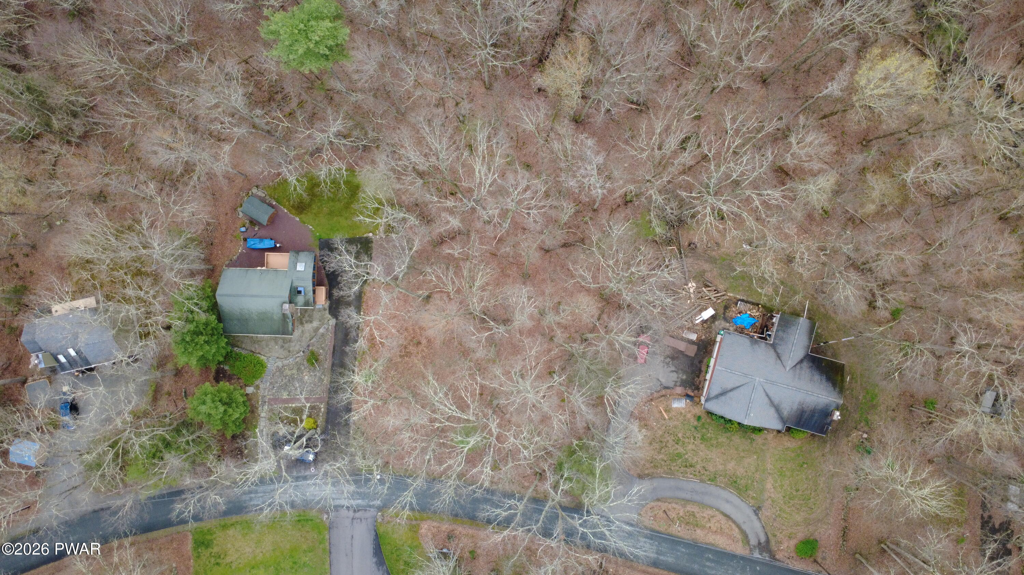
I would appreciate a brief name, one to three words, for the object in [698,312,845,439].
house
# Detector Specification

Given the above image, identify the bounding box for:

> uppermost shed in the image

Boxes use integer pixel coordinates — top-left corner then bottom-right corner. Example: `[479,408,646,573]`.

[241,196,281,225]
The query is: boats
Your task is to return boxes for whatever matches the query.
[246,237,282,250]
